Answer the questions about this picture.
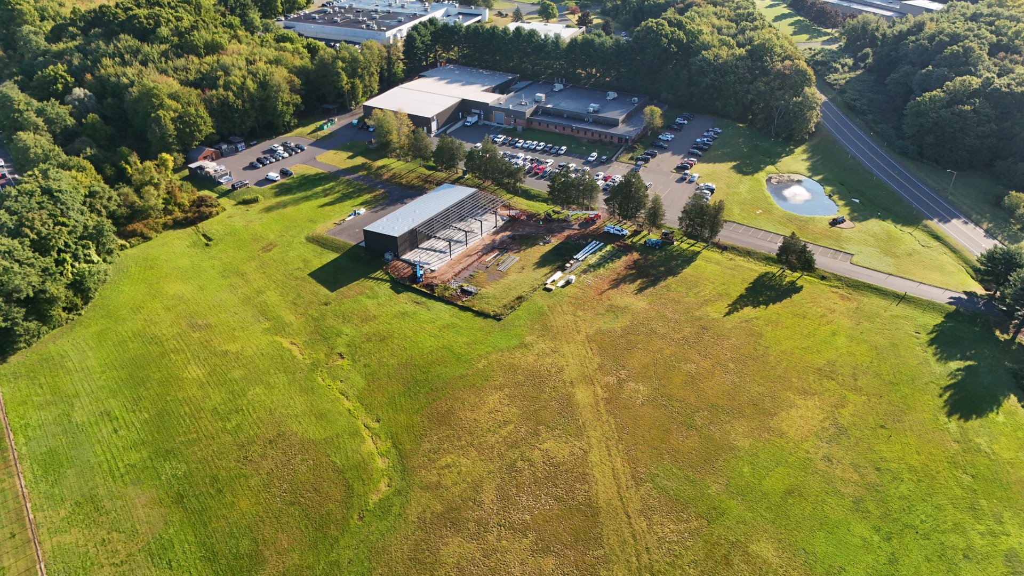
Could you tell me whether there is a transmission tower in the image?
No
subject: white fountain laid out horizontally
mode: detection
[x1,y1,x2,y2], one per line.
[782,189,815,204]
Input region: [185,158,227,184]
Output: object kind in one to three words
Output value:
shed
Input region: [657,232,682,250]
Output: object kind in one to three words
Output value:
work vehicle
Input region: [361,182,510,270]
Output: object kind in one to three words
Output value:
building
